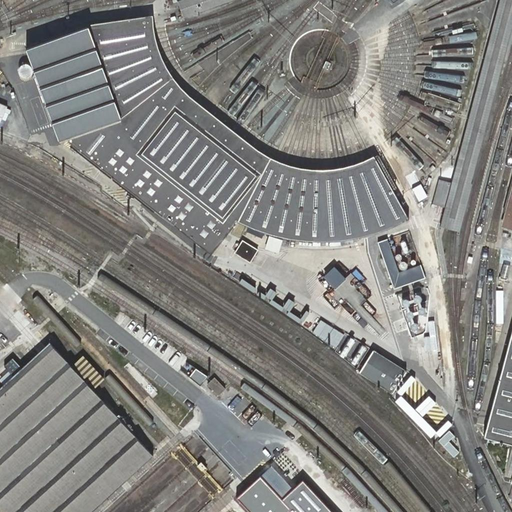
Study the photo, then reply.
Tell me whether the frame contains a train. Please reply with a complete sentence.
Yes, looking at the shot, I can spot a train.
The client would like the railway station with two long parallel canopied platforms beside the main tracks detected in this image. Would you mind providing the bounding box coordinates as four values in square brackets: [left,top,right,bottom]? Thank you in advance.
[94,272,402,512]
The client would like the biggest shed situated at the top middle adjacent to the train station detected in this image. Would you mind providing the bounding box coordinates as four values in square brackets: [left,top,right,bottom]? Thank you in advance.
[70,16,408,254]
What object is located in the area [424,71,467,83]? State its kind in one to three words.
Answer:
rail car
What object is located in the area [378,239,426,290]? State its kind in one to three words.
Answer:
building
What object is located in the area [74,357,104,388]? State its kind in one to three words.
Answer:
shed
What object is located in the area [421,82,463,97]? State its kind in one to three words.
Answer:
rail car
